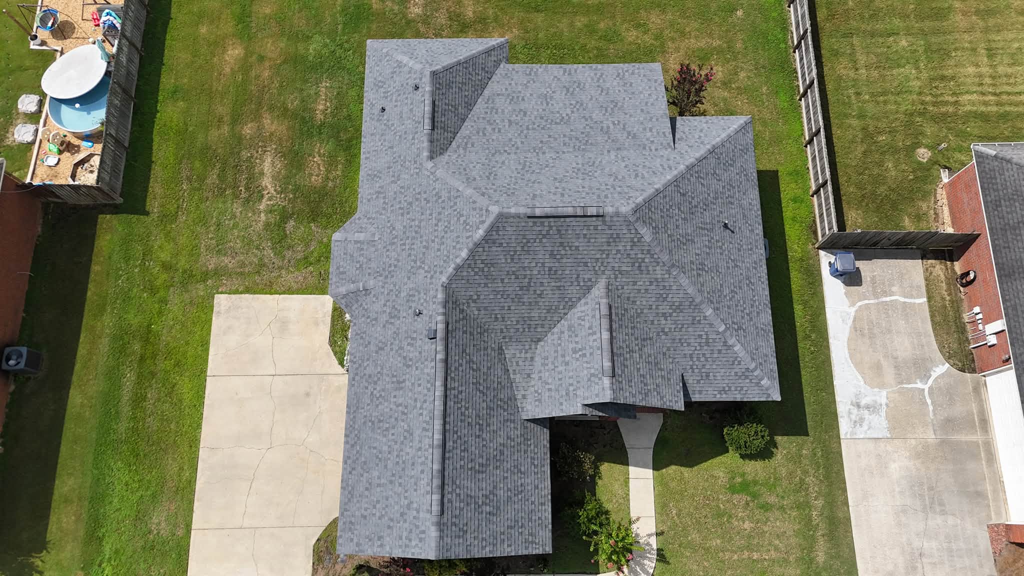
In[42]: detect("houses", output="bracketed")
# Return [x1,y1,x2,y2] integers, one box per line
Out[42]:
[939,141,1024,547]
[328,38,780,562]
[0,159,41,439]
